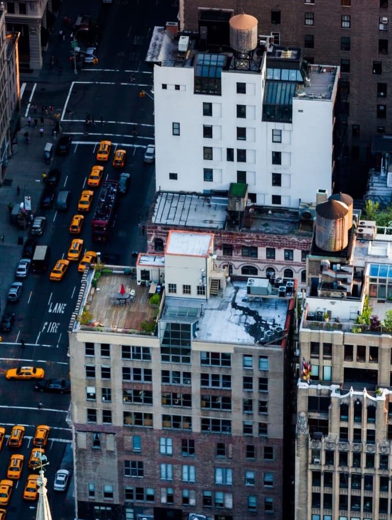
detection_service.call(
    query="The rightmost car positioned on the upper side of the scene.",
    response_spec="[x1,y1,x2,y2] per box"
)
[142,145,156,166]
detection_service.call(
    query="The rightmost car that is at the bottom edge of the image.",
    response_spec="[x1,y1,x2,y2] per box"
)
[51,469,72,495]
